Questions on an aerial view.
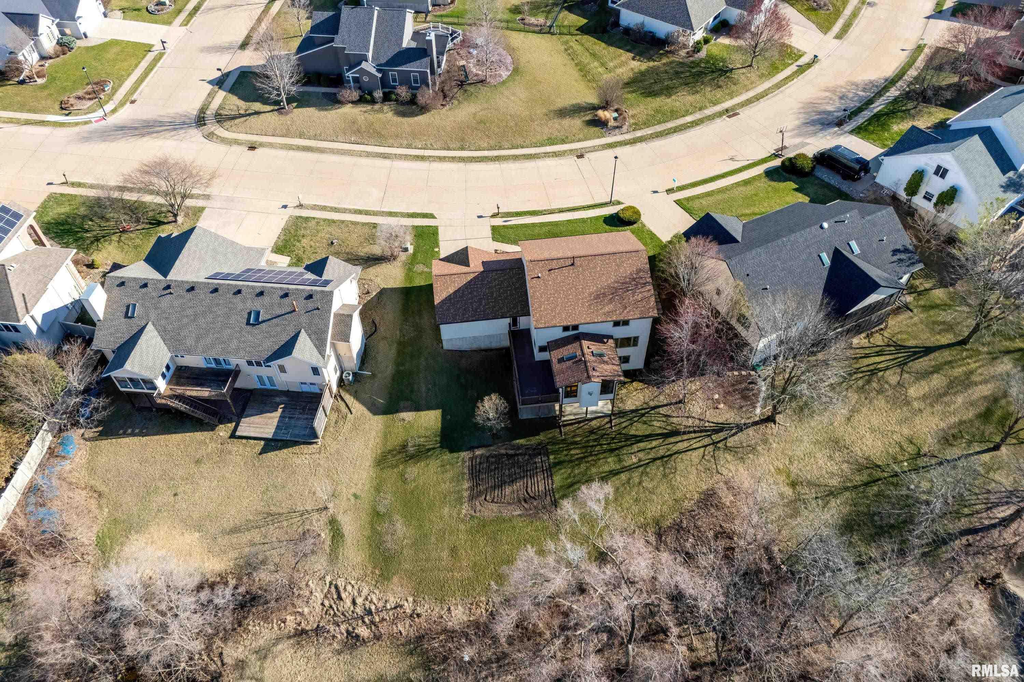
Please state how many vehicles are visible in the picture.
1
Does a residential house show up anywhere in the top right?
Yes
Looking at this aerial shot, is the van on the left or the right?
right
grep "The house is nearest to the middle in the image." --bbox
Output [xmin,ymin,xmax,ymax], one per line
[432,231,657,439]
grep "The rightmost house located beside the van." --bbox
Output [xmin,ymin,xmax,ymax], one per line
[871,72,1024,248]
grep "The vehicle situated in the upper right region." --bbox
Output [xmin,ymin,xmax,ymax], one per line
[816,143,873,177]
